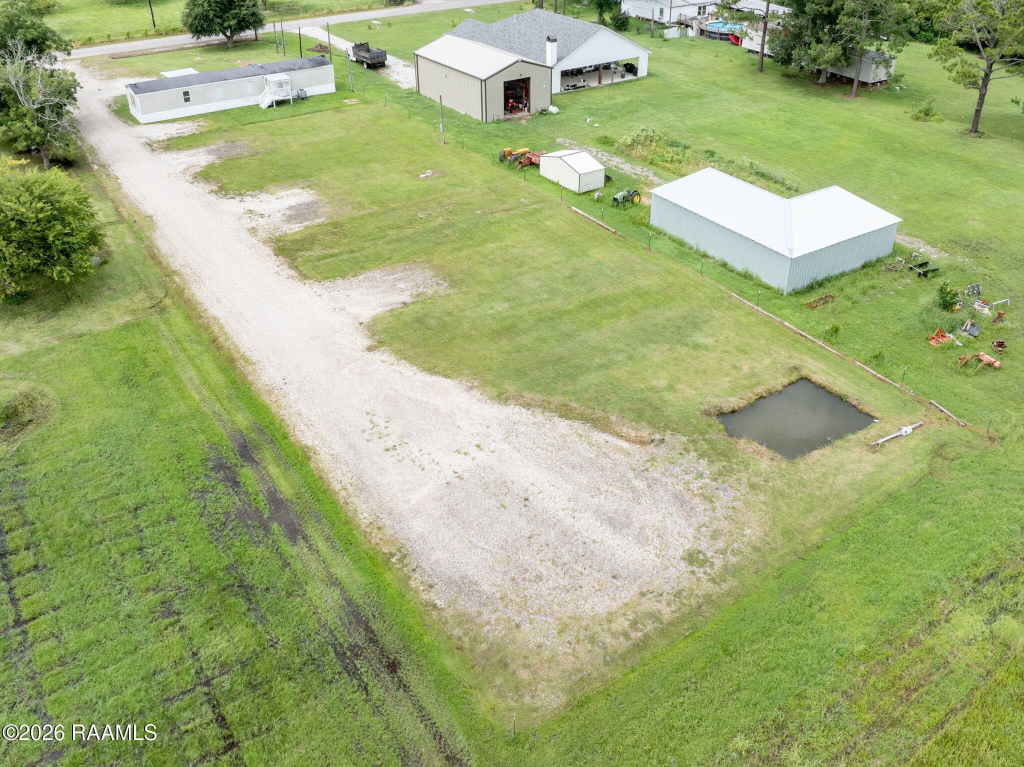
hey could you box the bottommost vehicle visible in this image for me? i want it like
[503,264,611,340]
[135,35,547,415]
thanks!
[608,183,643,207]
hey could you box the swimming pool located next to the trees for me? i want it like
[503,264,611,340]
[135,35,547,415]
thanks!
[696,19,744,42]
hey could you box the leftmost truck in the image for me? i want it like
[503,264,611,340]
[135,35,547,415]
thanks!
[352,42,390,68]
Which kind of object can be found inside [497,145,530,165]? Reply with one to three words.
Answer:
work vehicle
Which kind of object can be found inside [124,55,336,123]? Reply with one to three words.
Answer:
house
